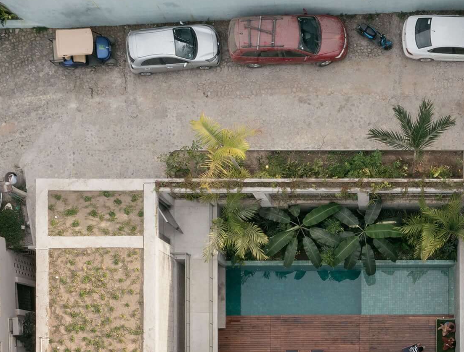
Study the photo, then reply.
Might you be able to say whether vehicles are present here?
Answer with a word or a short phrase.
Yes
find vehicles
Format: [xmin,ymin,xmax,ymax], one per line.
[230,12,347,71]
[126,21,224,75]
[402,17,464,66]
[50,23,116,68]
[359,21,392,49]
